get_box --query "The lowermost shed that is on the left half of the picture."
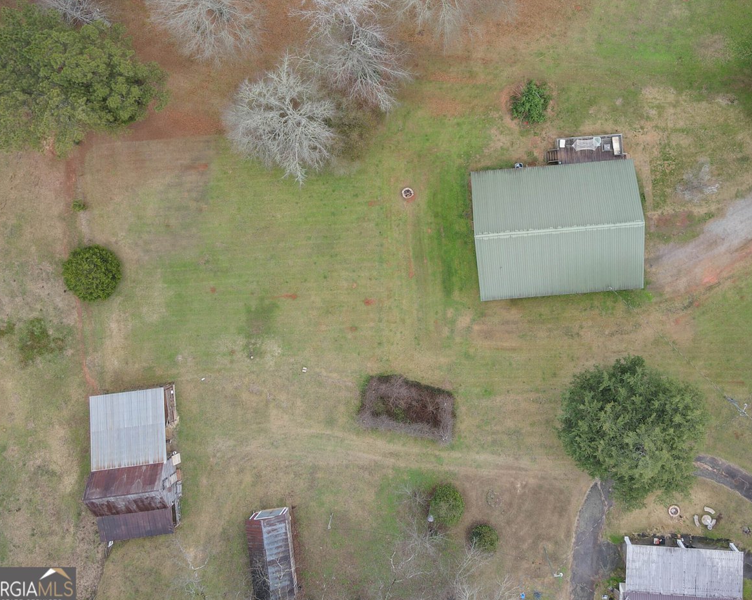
[245,506,302,600]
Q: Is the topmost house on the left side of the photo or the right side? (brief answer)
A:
right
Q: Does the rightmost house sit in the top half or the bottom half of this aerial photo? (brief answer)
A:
bottom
